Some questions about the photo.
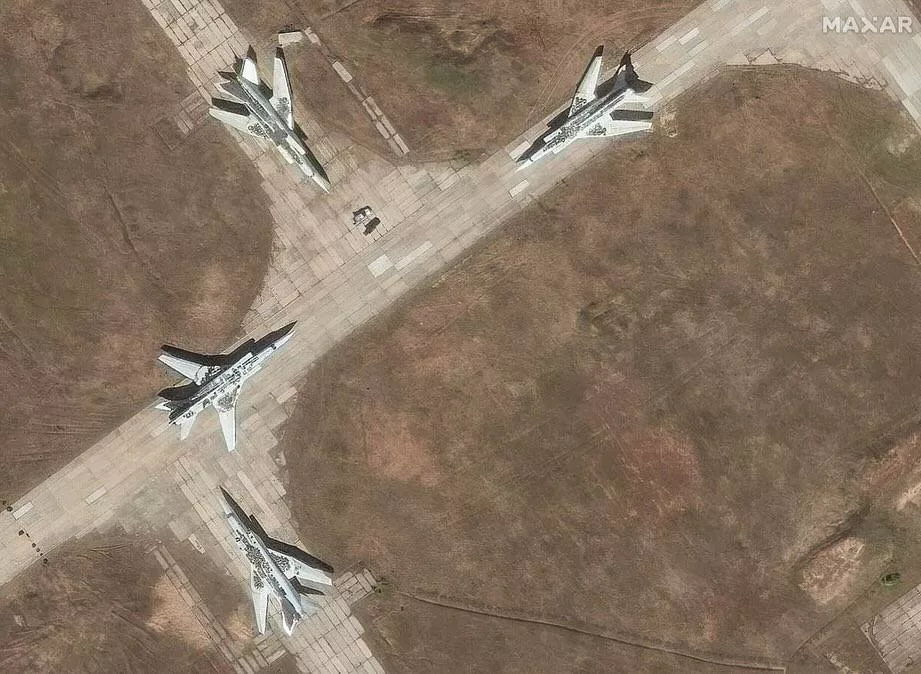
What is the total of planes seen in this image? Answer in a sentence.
I count 4 planes.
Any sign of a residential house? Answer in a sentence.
No, no residential house can be seen from above.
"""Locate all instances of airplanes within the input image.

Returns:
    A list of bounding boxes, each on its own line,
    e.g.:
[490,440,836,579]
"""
[219,495,336,635]
[157,329,297,452]
[514,49,657,172]
[209,56,331,196]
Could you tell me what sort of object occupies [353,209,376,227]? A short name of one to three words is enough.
vehicle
